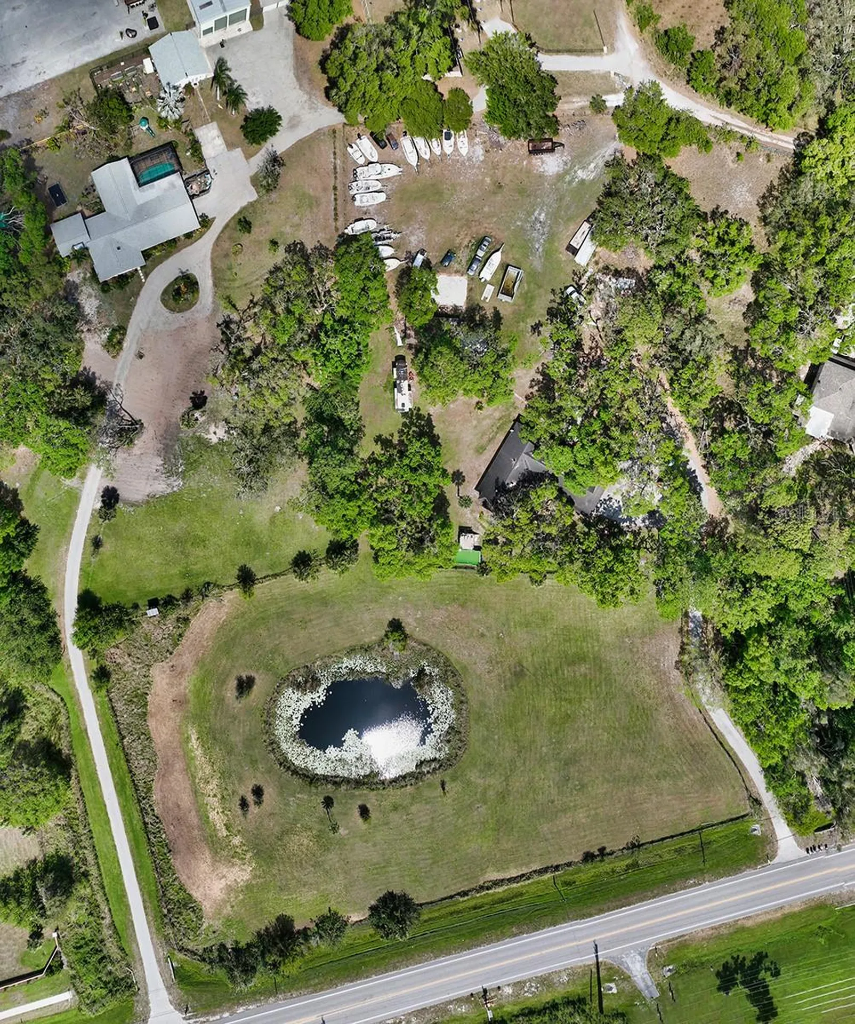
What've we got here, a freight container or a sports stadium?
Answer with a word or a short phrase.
freight container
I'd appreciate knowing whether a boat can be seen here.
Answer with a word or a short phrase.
Yes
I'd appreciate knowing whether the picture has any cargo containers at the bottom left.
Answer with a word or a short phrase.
No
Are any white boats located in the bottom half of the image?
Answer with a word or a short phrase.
No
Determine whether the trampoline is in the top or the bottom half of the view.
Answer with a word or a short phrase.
top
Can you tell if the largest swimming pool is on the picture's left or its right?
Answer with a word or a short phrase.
left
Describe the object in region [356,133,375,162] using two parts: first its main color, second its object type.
white boat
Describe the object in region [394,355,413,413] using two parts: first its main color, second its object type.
white camper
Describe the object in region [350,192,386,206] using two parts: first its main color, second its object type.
white boat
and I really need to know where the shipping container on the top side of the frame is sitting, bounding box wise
[496,266,523,303]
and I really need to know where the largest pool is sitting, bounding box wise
[130,143,182,185]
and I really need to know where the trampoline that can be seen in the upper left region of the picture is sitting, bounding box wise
[47,183,69,207]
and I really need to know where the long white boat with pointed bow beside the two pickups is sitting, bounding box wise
[477,252,500,283]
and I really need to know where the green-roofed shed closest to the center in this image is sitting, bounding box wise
[454,551,481,566]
